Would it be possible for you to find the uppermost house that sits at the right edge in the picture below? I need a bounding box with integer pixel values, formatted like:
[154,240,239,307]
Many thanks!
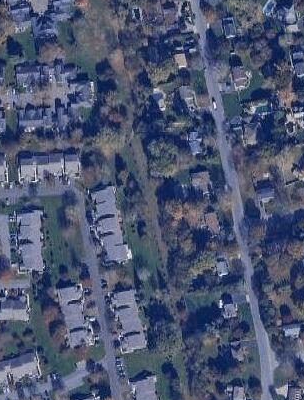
[279,5,297,29]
